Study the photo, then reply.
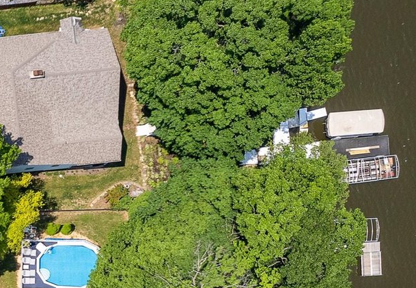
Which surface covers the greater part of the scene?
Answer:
trees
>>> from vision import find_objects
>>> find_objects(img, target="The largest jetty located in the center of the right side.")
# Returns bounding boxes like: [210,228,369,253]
[338,134,391,157]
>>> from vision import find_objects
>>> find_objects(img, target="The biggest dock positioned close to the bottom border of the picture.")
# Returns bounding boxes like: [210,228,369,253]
[358,251,383,275]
